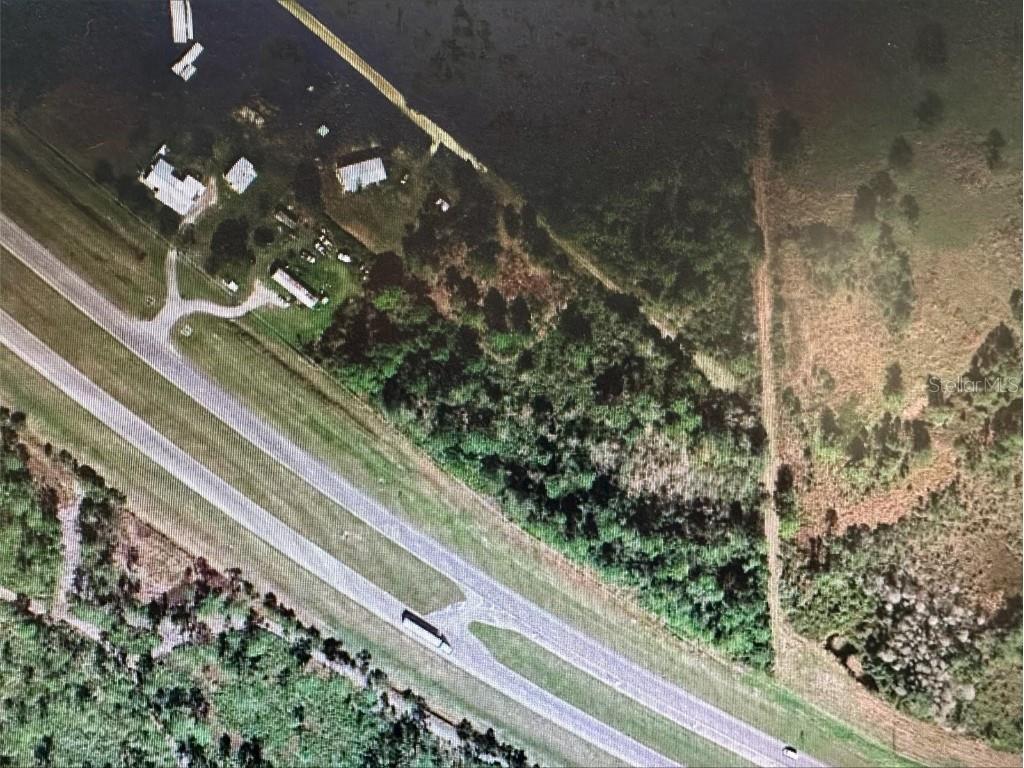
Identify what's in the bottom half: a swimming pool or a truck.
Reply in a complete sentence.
Visible in the bottom half is a truck.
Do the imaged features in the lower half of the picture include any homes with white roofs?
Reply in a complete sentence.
No, I see no home with a white roof in the lower half of the picture.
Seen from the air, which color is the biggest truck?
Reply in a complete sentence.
In this view, the biggest truck is white.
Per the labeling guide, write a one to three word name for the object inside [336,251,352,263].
vehicle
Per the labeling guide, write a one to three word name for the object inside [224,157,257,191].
building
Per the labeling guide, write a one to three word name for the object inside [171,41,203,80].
shed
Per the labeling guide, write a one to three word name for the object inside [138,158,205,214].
house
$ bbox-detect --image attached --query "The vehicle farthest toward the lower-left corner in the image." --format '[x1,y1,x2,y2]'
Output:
[400,617,453,655]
